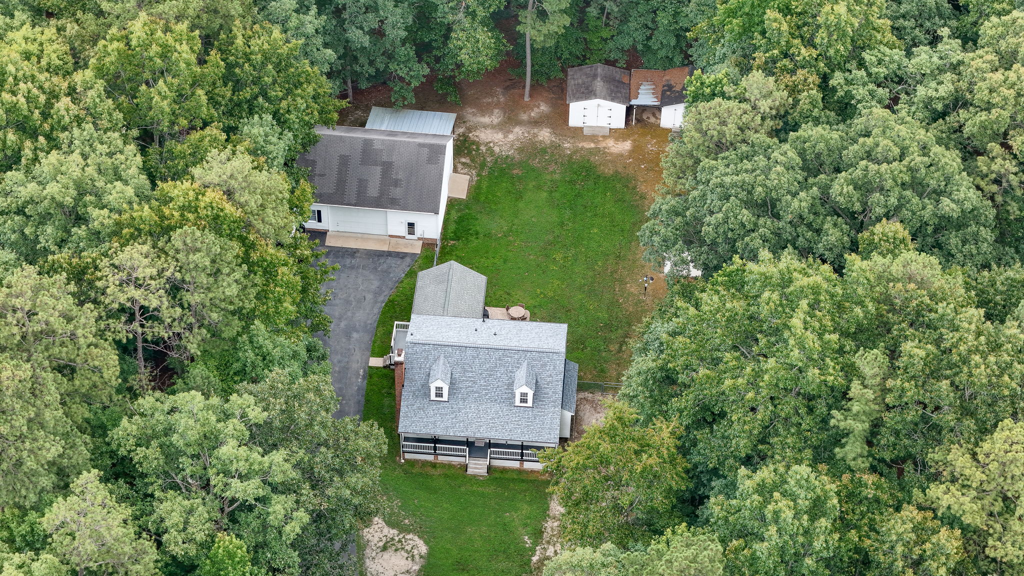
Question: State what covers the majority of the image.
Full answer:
The scene is dominated by trees.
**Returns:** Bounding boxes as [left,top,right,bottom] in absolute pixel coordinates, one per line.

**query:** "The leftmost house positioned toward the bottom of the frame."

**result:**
[380,261,578,475]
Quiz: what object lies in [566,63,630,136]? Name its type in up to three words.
shed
